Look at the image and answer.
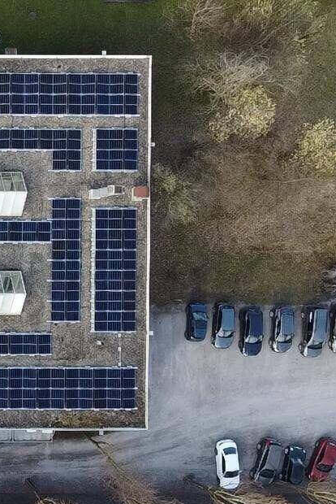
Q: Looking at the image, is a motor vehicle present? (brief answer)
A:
Yes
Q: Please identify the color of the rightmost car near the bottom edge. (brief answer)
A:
red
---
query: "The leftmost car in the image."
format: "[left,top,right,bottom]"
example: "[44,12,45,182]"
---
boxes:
[185,303,209,340]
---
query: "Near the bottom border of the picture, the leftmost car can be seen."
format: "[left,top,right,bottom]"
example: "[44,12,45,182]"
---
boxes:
[212,439,241,487]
